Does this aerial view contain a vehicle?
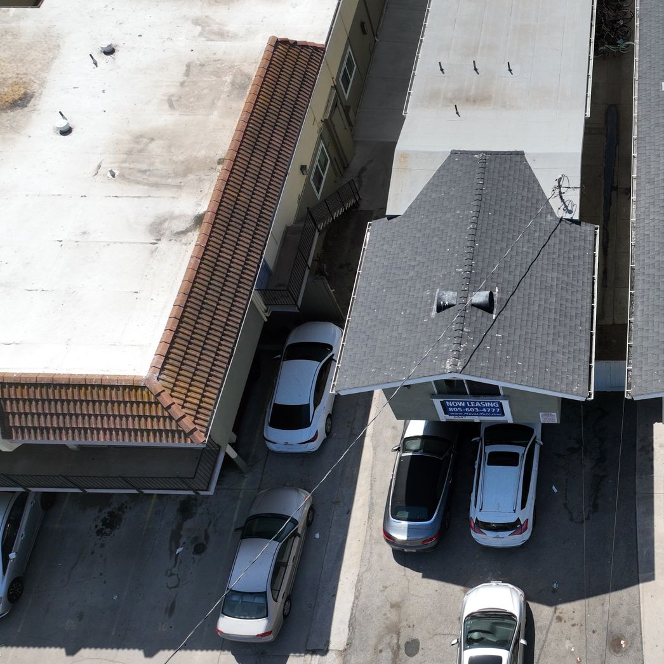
Yes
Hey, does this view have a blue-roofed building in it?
No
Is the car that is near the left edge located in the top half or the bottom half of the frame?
bottom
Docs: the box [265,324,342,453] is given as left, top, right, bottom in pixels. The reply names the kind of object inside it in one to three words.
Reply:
car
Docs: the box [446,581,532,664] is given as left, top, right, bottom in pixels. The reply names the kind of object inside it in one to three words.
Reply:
car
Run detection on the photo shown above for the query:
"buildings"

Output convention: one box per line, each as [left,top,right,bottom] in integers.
[0,0,388,495]
[622,0,664,424]
[330,0,601,424]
